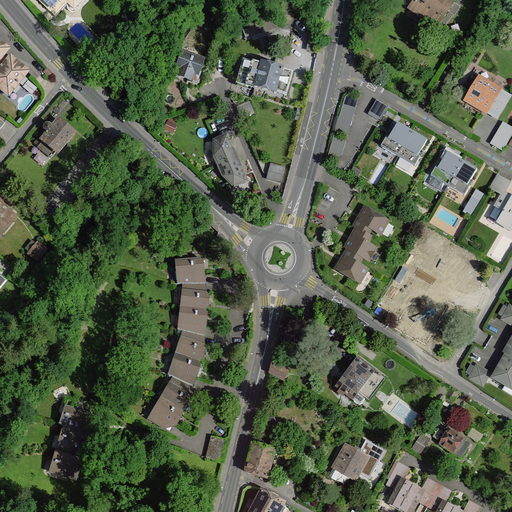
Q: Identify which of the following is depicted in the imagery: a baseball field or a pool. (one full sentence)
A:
There is a pool in the scene.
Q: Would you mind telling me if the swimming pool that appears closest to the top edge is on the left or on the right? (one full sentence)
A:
The swimming pool that appears closest to the top edge sits on the left side.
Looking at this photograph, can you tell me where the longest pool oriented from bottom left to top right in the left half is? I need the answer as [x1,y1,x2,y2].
[18,94,34,111]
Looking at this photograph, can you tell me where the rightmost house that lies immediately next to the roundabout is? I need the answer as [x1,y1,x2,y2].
[334,204,390,283]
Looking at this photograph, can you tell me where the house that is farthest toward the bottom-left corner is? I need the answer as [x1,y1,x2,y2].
[44,405,84,480]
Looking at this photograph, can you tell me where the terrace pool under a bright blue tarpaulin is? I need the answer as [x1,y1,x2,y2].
[69,22,92,42]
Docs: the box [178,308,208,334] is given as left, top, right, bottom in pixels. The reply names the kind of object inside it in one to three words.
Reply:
house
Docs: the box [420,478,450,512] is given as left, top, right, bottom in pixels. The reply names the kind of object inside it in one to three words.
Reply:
house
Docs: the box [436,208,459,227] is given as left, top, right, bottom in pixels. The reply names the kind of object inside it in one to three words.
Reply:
swimming pool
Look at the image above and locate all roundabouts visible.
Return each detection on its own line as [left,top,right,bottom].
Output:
[248,226,310,290]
